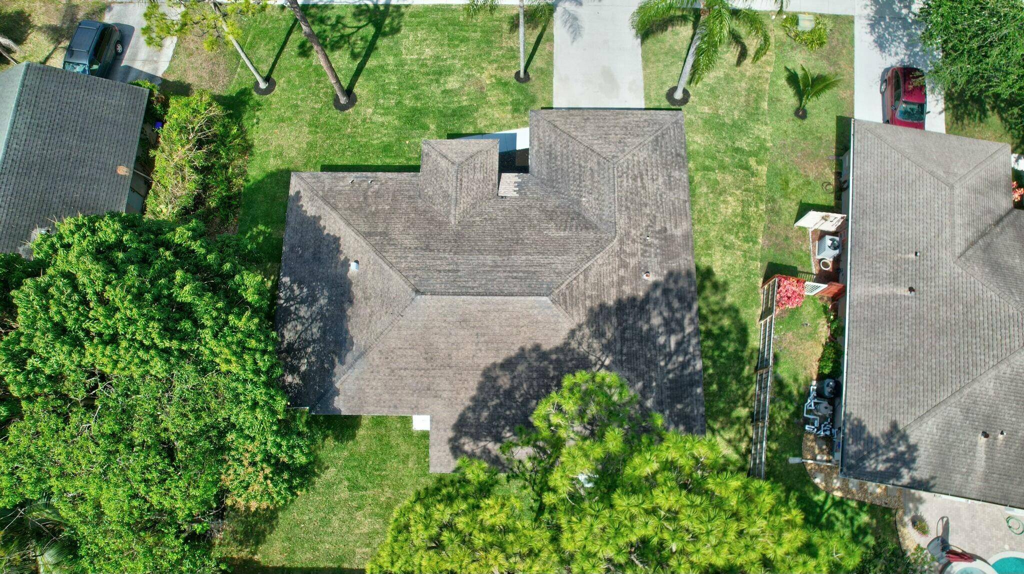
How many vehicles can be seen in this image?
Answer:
two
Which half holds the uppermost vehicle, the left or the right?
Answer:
left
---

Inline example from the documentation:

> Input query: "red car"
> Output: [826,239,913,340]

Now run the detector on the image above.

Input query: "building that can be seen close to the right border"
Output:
[825,118,1024,512]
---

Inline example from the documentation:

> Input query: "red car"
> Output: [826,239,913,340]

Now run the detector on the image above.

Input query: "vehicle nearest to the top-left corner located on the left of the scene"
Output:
[65,15,121,78]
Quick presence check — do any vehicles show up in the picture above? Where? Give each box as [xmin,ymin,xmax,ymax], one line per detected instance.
[65,15,121,78]
[880,64,931,129]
